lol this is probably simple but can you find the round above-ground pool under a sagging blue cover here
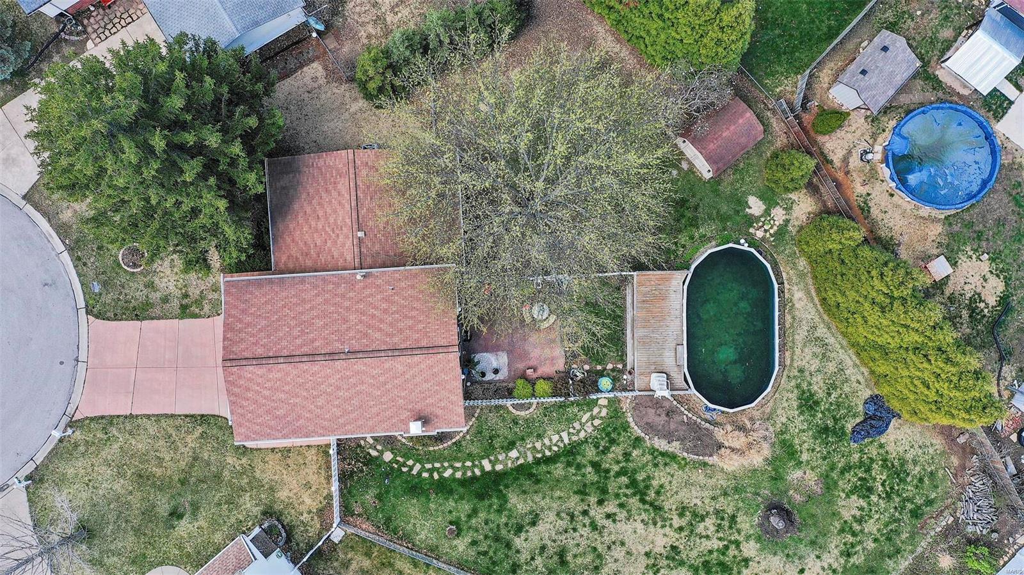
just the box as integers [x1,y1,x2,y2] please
[877,99,1001,217]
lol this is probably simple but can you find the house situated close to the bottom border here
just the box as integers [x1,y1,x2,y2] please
[193,530,265,575]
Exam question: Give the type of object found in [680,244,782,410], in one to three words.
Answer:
swimming pool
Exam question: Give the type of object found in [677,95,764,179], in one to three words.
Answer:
shed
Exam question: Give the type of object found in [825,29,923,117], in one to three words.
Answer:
shed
